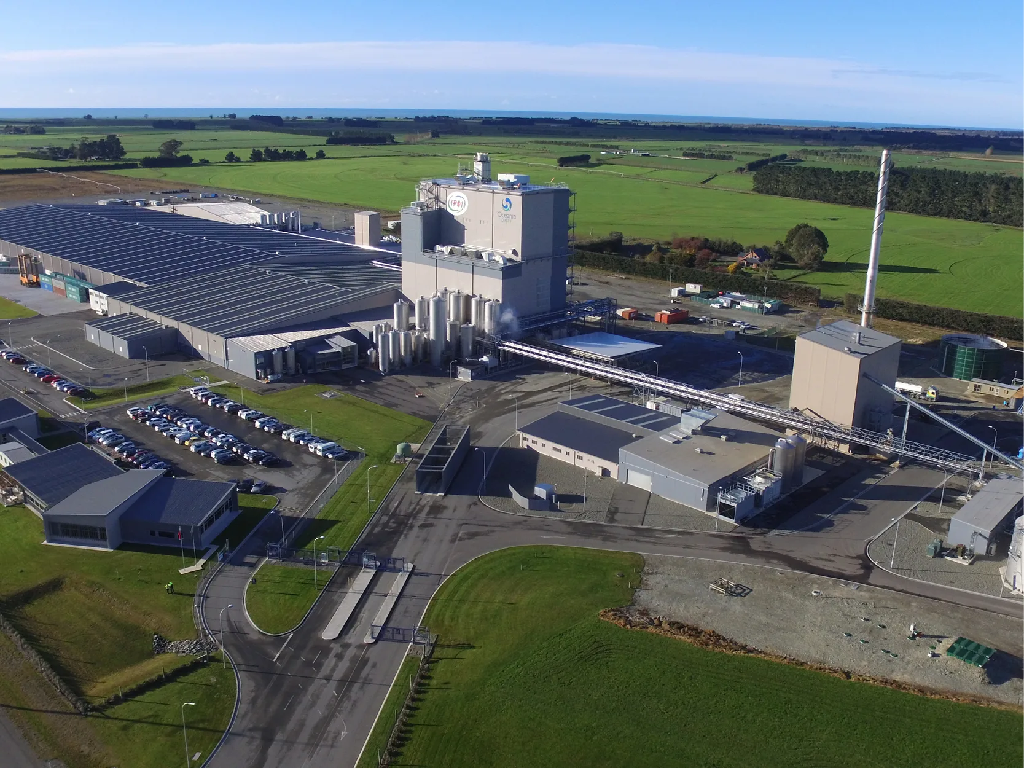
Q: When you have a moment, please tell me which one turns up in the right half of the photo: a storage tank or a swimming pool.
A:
storage tank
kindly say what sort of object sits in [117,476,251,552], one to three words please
building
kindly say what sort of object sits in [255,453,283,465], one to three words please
vehicle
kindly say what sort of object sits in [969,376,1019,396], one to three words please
building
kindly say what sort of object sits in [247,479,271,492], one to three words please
vehicle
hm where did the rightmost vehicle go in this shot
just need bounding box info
[899,382,950,400]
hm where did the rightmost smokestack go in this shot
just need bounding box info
[861,149,898,331]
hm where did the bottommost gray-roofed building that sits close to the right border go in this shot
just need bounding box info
[944,470,1024,556]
